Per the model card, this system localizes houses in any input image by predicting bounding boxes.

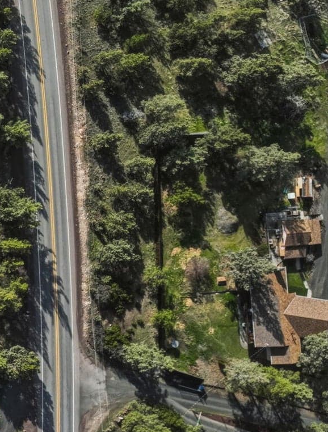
[270,219,322,260]
[241,267,328,365]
